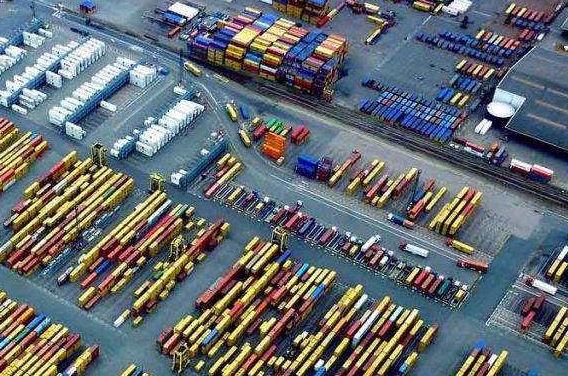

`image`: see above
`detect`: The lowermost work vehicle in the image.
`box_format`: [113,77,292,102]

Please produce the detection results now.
[172,344,191,370]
